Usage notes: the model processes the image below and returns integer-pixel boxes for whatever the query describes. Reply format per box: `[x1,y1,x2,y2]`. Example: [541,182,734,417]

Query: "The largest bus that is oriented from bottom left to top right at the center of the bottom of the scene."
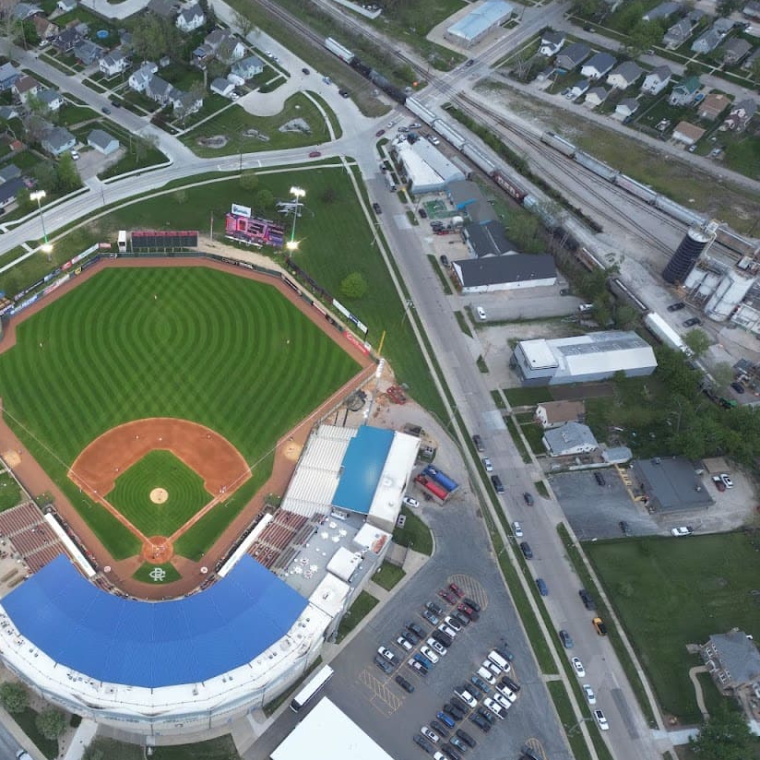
[289,664,333,713]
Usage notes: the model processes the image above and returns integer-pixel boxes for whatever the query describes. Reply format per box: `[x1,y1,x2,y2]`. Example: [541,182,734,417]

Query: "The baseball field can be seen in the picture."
[0,254,375,601]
